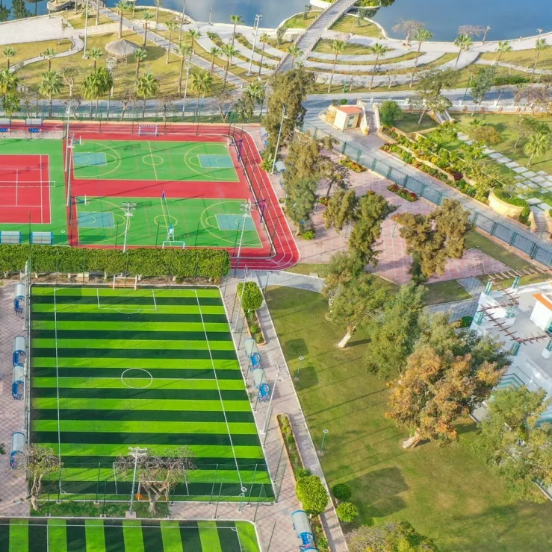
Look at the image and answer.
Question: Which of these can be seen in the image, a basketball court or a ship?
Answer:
basketball court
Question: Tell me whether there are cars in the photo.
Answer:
No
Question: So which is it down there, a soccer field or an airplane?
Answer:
soccer field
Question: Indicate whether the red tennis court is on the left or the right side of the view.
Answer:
left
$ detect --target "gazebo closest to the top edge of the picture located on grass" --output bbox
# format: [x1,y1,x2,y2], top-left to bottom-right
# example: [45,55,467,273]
[105,37,142,64]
